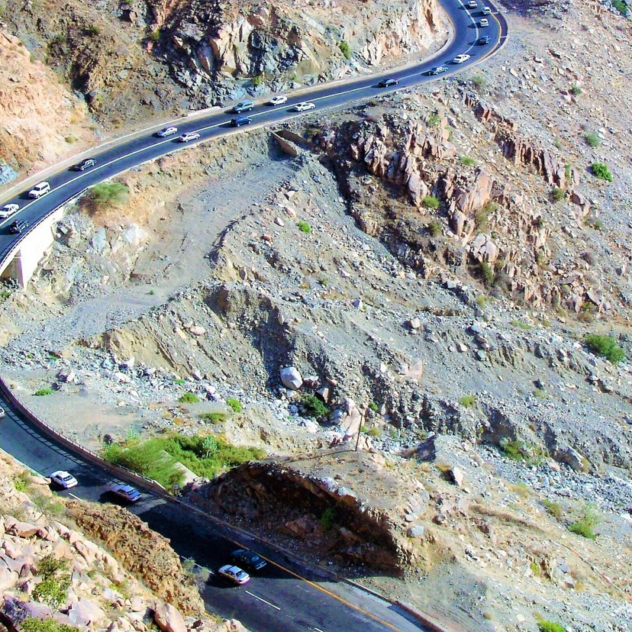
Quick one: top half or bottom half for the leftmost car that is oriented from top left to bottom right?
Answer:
bottom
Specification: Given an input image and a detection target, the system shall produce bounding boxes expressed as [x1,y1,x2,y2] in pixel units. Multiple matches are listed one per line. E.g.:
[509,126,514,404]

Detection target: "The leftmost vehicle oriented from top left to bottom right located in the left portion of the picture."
[48,470,80,492]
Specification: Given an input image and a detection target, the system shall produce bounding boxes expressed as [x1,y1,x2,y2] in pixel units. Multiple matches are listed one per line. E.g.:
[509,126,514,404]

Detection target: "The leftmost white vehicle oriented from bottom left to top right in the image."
[0,204,20,222]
